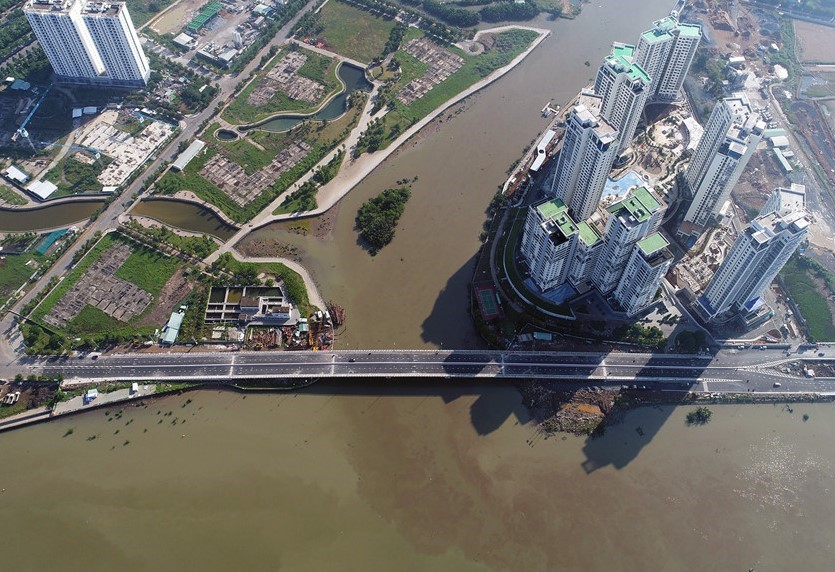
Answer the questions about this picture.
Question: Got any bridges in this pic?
Yes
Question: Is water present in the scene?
Yes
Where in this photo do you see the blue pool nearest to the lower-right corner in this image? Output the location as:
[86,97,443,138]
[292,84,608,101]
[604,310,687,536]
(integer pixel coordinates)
[542,282,578,303]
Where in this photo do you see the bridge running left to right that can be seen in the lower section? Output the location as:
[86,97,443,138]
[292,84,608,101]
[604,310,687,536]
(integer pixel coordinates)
[20,350,705,382]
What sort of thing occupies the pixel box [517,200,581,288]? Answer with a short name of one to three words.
building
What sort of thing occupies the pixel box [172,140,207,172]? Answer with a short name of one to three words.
shed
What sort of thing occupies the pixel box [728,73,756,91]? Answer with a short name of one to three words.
shed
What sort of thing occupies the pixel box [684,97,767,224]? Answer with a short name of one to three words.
building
